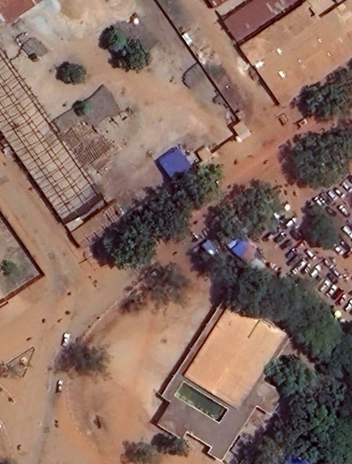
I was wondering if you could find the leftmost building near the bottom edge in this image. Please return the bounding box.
[157,301,290,461]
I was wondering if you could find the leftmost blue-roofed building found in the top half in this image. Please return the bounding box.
[160,147,190,177]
